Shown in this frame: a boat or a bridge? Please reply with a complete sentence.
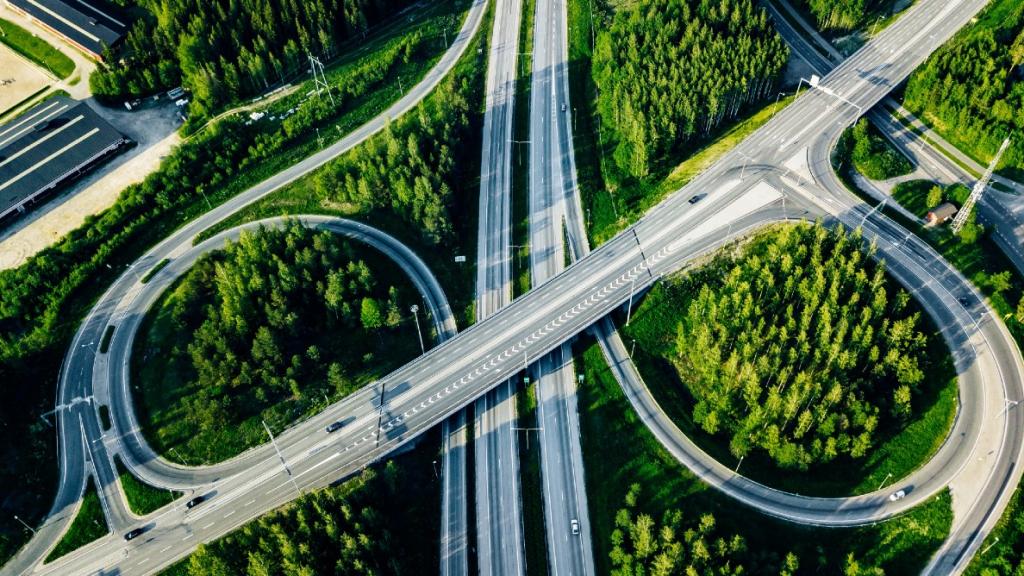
It is a bridge that can be seen here.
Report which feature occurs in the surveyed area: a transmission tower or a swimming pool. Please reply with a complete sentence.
Visible in the photo is a transmission tower.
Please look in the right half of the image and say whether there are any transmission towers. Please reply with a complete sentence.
No, no transmission tower can be made out in the right half of the image.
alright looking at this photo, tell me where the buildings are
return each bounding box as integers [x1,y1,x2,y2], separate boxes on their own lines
[0,0,152,65]
[0,101,127,227]
[923,200,962,229]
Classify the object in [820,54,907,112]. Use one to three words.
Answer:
bridge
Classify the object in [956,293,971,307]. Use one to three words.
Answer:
car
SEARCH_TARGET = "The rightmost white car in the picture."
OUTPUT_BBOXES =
[889,487,908,500]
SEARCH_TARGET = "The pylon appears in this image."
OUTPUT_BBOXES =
[308,52,334,104]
